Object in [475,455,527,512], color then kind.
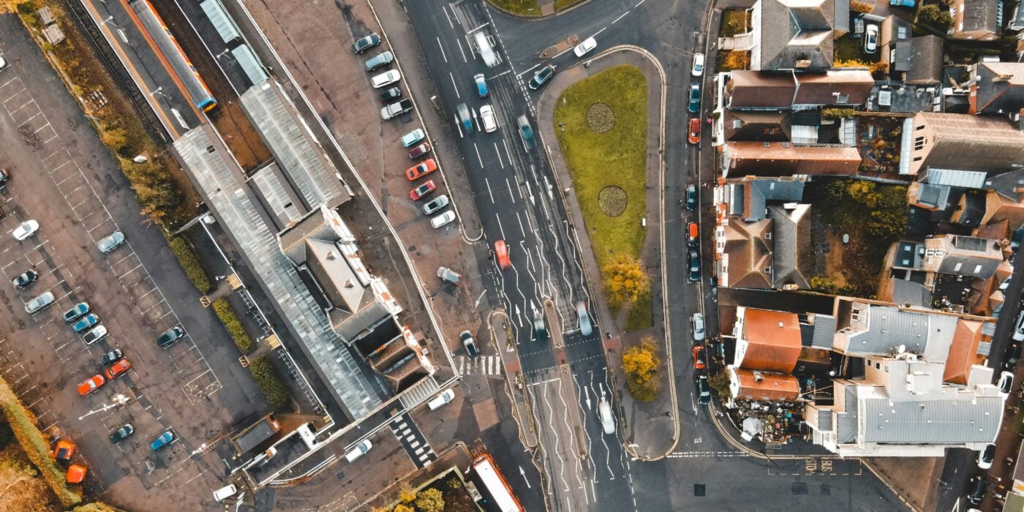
white bus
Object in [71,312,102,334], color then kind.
blue car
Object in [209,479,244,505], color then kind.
white vehicle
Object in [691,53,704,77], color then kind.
white vehicle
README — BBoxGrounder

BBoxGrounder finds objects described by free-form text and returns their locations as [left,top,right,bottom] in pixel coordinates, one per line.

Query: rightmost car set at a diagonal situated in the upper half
[572,34,599,59]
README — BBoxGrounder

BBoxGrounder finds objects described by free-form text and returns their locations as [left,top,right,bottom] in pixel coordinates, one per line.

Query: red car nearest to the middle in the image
[493,238,511,268]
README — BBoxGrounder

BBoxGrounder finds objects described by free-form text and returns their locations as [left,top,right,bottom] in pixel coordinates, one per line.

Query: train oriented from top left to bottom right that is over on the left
[123,0,218,116]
